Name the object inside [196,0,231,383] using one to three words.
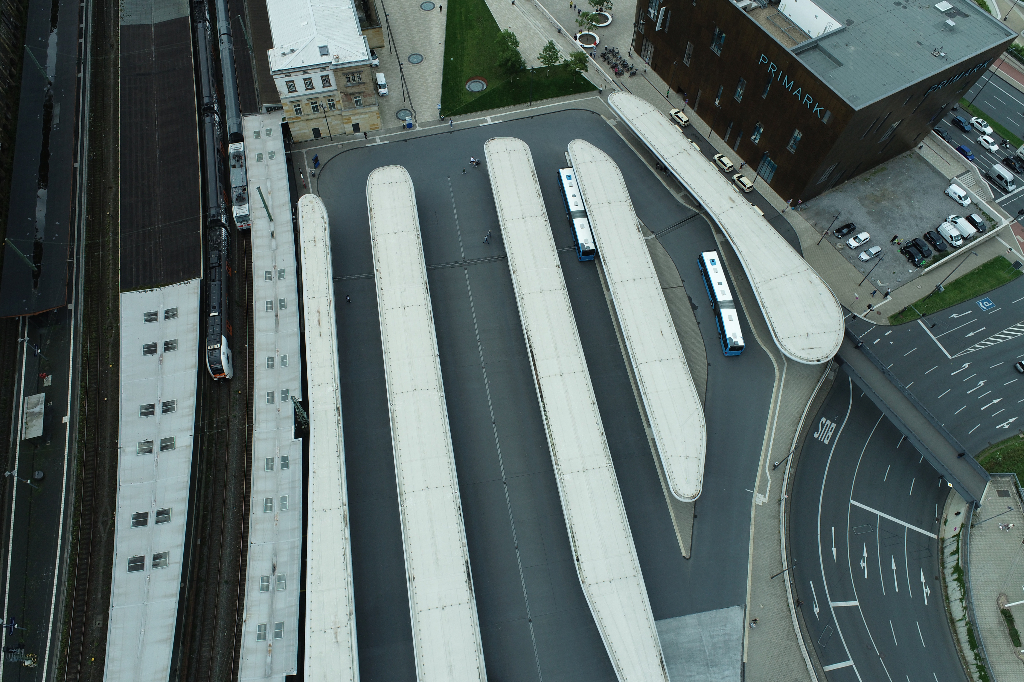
train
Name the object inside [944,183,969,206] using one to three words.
vehicle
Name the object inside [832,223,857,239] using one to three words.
car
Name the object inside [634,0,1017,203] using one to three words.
building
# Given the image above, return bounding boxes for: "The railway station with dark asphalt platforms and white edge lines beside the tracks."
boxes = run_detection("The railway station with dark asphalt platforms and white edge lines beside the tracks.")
[0,0,293,682]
